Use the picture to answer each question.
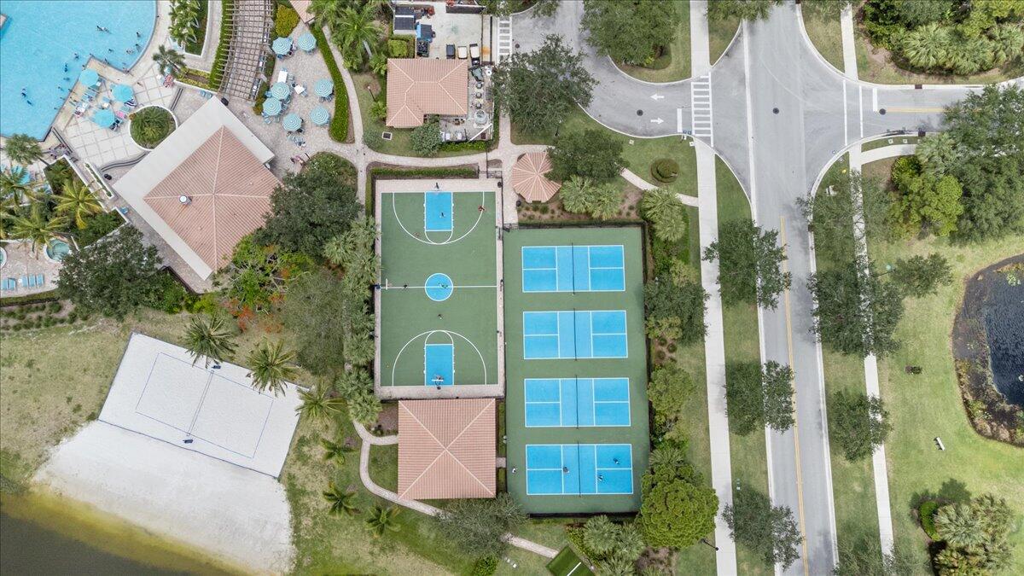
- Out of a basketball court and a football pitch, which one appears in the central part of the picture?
basketball court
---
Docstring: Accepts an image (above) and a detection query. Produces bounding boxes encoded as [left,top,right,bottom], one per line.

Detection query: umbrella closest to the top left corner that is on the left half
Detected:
[80,69,102,88]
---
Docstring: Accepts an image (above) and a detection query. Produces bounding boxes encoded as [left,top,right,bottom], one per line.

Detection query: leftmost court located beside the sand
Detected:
[97,332,307,477]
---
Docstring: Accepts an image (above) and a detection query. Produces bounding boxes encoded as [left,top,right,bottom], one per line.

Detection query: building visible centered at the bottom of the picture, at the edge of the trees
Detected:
[397,398,497,500]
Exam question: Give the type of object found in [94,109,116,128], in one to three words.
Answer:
umbrella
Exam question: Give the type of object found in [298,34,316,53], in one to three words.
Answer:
umbrella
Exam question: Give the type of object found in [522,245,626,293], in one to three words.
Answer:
sports court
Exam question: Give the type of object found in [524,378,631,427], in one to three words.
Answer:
sports court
